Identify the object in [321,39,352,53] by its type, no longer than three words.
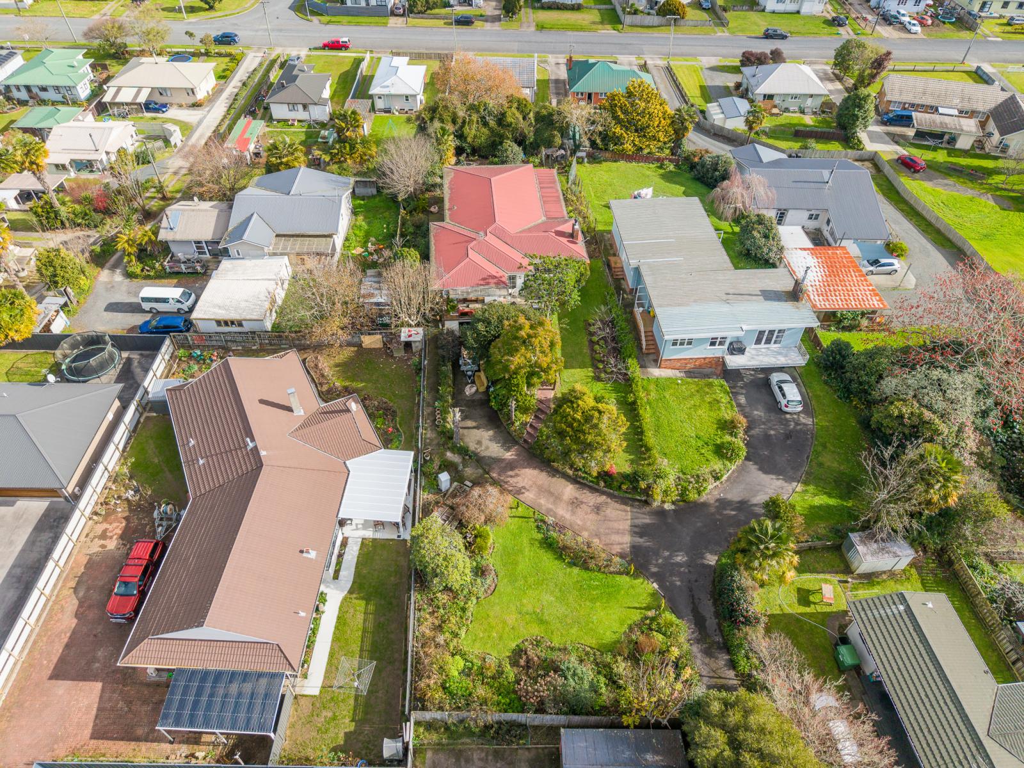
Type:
vehicle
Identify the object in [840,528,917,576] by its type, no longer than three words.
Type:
shed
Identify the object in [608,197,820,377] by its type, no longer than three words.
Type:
house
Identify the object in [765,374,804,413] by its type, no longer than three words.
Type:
car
